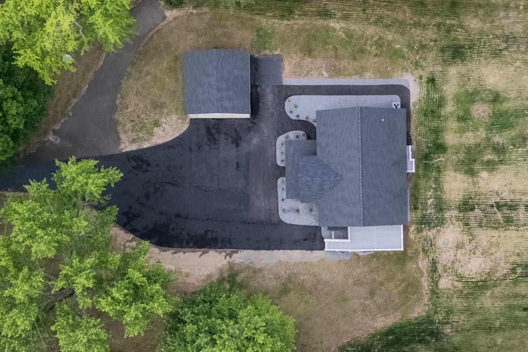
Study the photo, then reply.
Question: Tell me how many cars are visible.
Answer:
0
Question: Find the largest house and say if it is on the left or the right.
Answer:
right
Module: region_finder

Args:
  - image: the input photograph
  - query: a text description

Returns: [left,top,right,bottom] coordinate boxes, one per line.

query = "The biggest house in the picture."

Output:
[285,107,417,250]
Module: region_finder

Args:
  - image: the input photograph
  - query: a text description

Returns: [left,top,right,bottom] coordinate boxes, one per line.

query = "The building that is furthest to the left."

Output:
[185,48,251,117]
